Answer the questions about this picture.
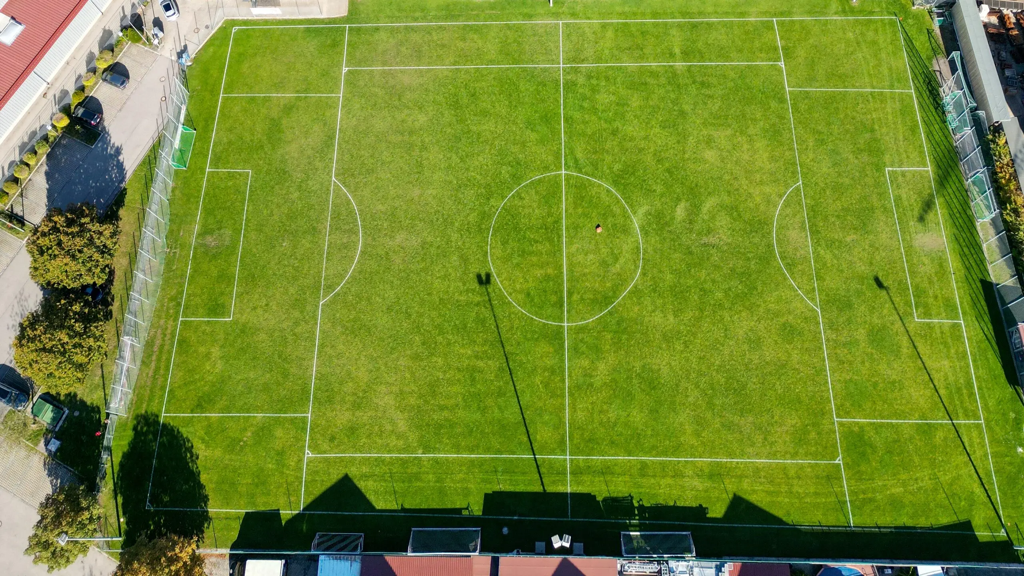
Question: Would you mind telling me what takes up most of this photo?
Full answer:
The scene is dominated by grass.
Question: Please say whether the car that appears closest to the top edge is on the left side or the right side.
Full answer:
You can find the car that appears closest to the top edge on the left side of the picture.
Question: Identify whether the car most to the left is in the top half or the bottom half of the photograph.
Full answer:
It is in the bottom half that the car most to the left appears.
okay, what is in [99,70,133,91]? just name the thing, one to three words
car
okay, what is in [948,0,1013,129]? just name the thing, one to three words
shed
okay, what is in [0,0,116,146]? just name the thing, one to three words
warehouse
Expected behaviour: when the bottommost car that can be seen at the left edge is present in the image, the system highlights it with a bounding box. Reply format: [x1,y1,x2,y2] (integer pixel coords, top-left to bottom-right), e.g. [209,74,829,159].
[0,379,33,407]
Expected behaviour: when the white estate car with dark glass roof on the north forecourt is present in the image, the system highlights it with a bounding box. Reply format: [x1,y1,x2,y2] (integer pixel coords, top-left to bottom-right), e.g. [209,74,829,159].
[156,0,179,24]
